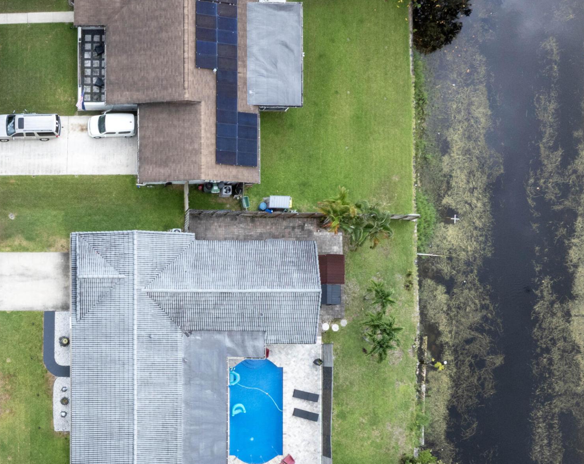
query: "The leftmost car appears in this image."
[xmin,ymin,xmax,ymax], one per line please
[0,110,61,143]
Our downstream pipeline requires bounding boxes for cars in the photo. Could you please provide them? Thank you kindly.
[0,110,61,143]
[86,111,136,140]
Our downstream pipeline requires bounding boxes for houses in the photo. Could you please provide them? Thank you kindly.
[70,229,322,464]
[74,0,304,185]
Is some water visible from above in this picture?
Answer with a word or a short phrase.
Yes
